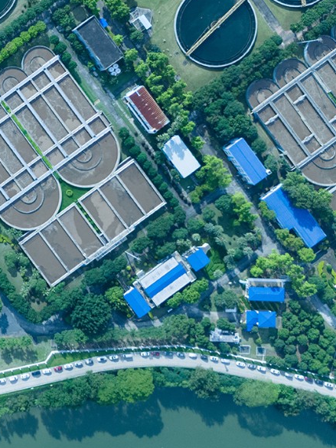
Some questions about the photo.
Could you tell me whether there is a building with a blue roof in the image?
Yes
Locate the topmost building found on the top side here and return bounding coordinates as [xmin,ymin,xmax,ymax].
[129,7,153,31]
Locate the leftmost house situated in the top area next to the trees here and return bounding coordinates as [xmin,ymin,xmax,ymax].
[74,16,123,71]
